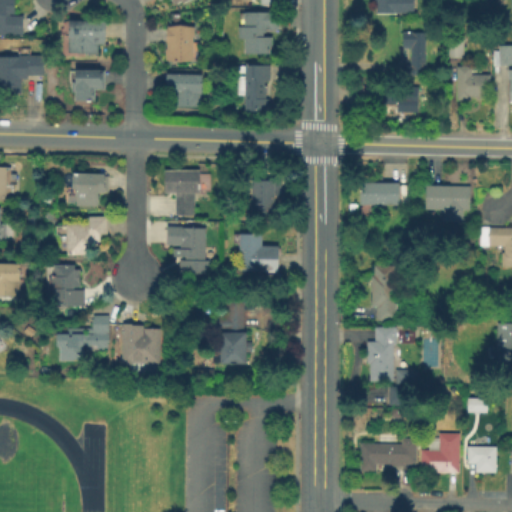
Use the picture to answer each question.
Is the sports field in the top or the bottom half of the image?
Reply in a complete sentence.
The sports field sits in the bottom half of the picture.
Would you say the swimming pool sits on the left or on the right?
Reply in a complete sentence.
You can find the swimming pool on the right side of the picture.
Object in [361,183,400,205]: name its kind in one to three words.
house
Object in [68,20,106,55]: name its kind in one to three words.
house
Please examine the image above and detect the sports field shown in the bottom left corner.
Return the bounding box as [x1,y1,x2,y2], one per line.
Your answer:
[0,418,81,512]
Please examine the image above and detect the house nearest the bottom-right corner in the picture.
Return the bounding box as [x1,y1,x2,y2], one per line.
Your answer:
[468,446,498,474]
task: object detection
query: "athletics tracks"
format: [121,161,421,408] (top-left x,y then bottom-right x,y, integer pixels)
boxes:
[0,399,106,512]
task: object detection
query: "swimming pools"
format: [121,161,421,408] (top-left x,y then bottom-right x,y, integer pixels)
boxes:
[420,334,443,370]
